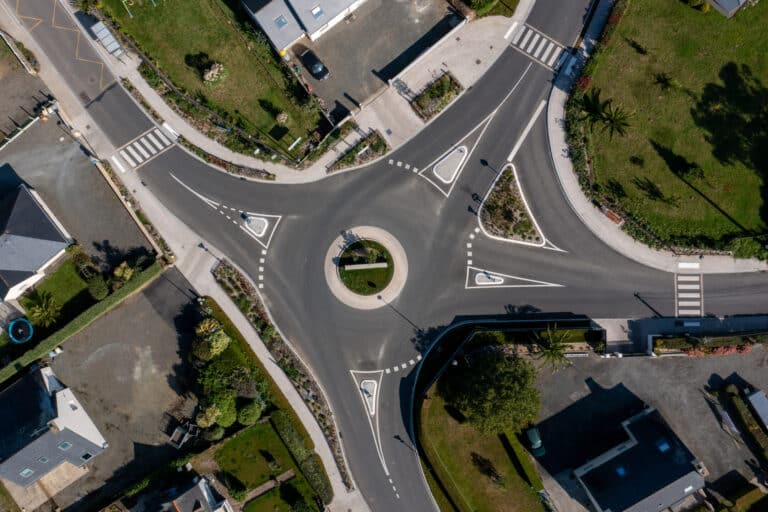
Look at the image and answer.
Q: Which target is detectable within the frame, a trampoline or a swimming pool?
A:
trampoline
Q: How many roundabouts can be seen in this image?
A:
1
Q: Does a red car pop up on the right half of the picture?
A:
No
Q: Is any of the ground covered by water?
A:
No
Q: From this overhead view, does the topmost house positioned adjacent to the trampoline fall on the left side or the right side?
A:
left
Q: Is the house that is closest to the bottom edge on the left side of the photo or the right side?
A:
left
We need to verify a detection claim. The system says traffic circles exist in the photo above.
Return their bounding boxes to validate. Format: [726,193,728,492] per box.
[325,226,408,309]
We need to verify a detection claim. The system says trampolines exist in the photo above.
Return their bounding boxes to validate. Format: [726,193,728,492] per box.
[8,319,37,343]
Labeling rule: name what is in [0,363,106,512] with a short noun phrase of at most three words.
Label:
house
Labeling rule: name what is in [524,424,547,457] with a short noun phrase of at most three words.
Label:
car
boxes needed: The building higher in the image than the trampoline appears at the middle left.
[0,184,76,317]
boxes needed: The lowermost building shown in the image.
[175,477,244,512]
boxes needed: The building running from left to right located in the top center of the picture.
[242,0,375,53]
